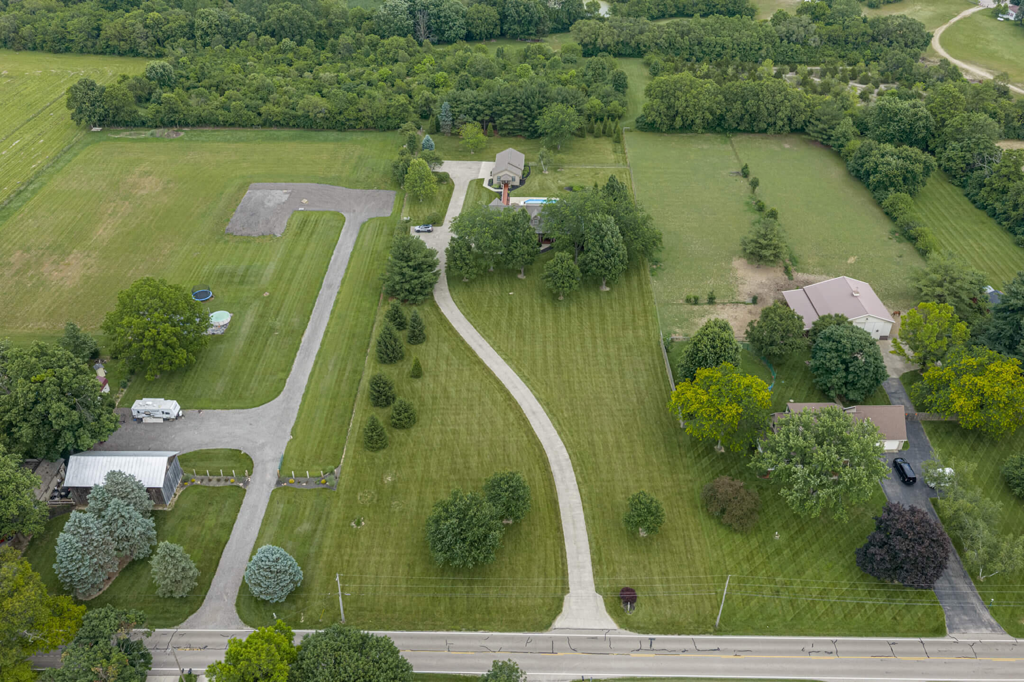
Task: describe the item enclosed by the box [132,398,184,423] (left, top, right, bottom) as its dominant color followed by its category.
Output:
white camper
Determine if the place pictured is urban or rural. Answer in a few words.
rural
